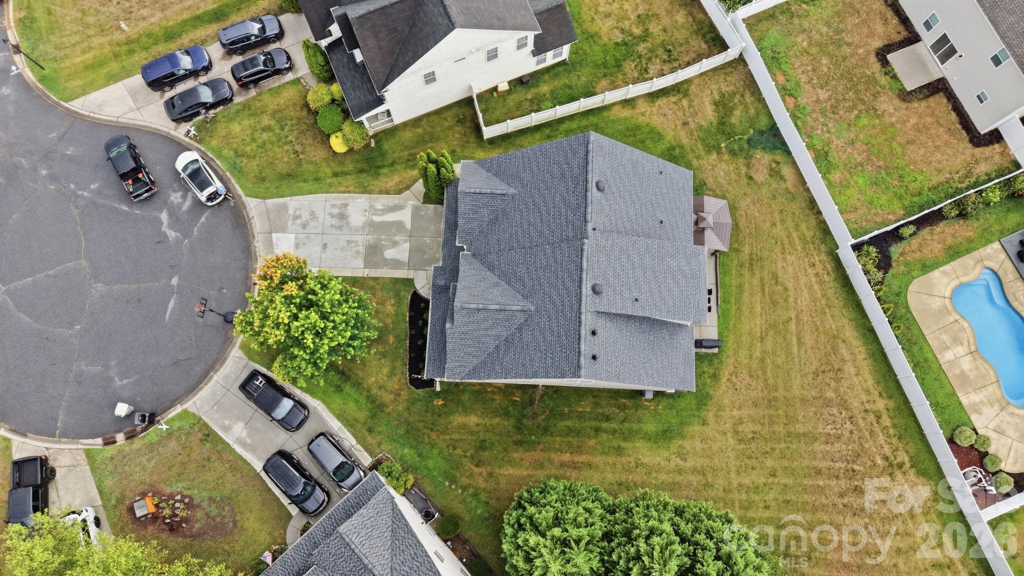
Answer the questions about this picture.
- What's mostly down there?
grass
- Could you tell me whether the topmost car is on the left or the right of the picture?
left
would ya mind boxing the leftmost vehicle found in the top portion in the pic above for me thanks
[105,132,160,205]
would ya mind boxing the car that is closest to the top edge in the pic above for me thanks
[218,13,283,56]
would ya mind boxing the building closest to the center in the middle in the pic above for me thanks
[424,133,710,392]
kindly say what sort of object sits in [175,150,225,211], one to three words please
car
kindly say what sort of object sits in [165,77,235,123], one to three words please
car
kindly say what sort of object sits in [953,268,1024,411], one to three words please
swimming pool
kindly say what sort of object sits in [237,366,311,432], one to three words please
truck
